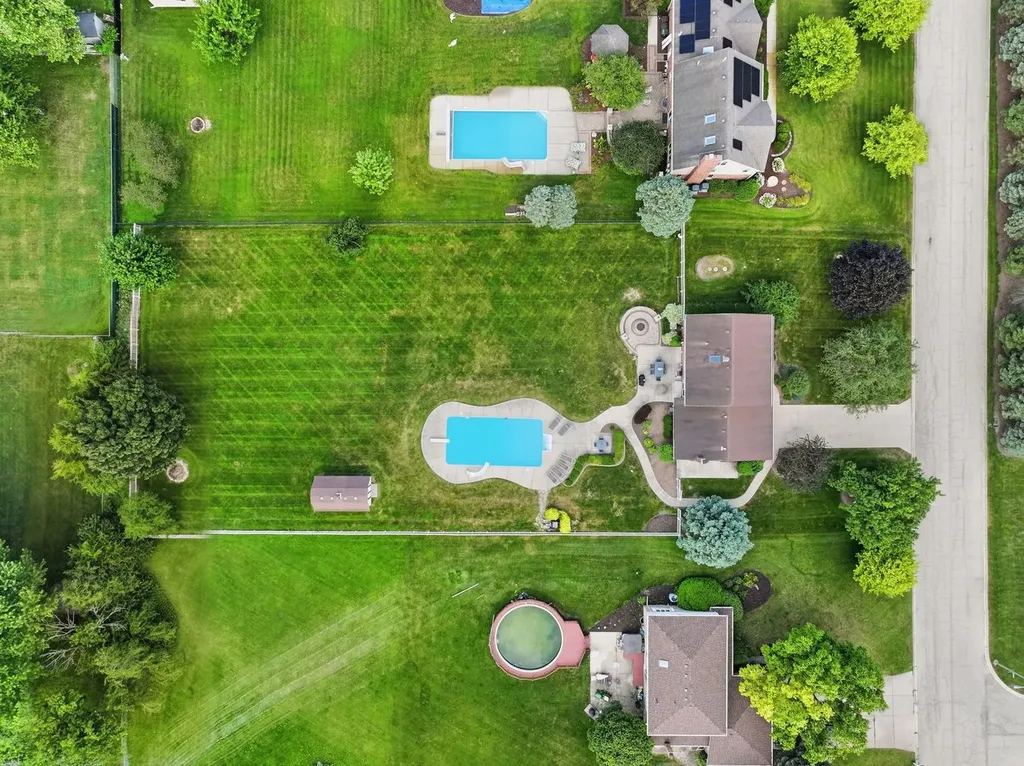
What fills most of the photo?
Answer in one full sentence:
The bulk of the photo consists of grass.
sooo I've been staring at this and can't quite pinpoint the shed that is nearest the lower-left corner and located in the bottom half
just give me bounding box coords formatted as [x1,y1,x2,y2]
[310,475,377,512]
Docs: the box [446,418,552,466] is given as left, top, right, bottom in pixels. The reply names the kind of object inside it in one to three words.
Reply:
swimming pool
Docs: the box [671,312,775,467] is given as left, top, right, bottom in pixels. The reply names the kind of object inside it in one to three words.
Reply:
house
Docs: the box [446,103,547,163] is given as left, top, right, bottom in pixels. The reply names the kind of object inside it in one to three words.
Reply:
swimming pool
